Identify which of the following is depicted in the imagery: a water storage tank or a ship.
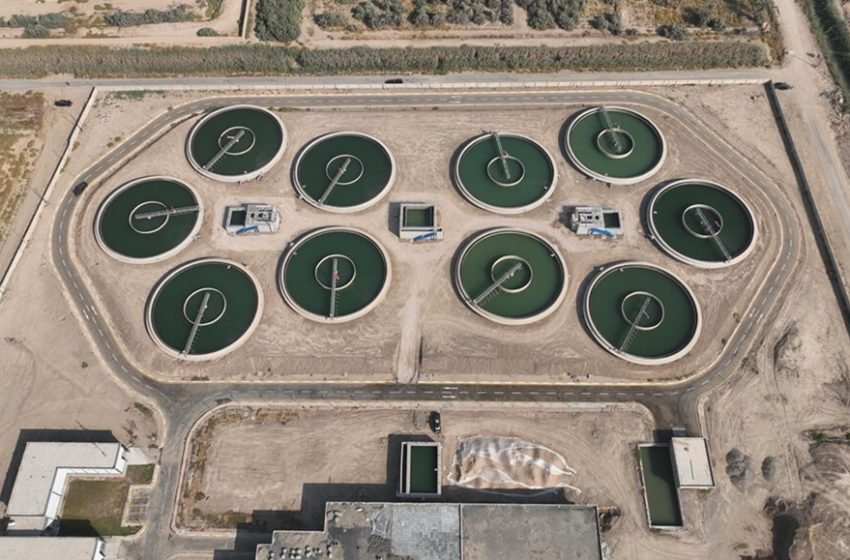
water storage tank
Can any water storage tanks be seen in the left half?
Yes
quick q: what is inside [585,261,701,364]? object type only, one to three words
water tank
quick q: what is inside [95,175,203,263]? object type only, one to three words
water tank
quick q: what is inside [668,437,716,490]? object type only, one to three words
building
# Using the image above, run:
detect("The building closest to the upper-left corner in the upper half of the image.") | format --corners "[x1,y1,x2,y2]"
[226,203,281,235]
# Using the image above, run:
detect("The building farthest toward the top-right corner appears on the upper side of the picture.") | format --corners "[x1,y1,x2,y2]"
[570,205,623,237]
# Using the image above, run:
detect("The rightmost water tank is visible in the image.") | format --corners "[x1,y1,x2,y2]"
[647,179,756,268]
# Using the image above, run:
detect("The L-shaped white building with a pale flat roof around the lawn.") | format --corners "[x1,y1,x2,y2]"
[6,442,129,519]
